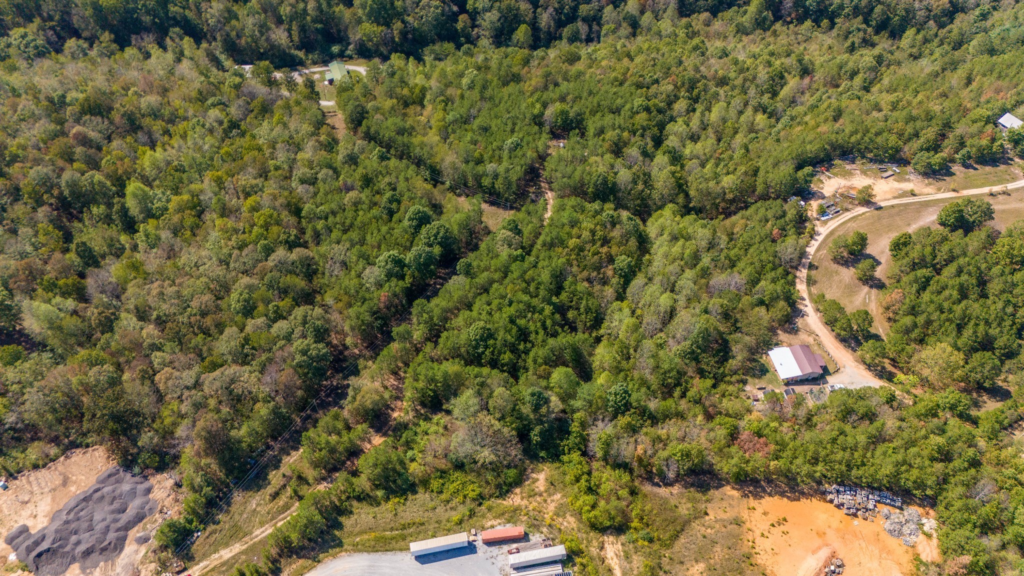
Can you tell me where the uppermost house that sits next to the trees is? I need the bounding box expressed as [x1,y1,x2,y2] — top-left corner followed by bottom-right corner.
[326,63,355,91]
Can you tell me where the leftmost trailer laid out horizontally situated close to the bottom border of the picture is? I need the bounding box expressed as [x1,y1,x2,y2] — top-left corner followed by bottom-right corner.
[410,532,468,557]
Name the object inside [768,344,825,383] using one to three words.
house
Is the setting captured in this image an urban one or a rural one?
rural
